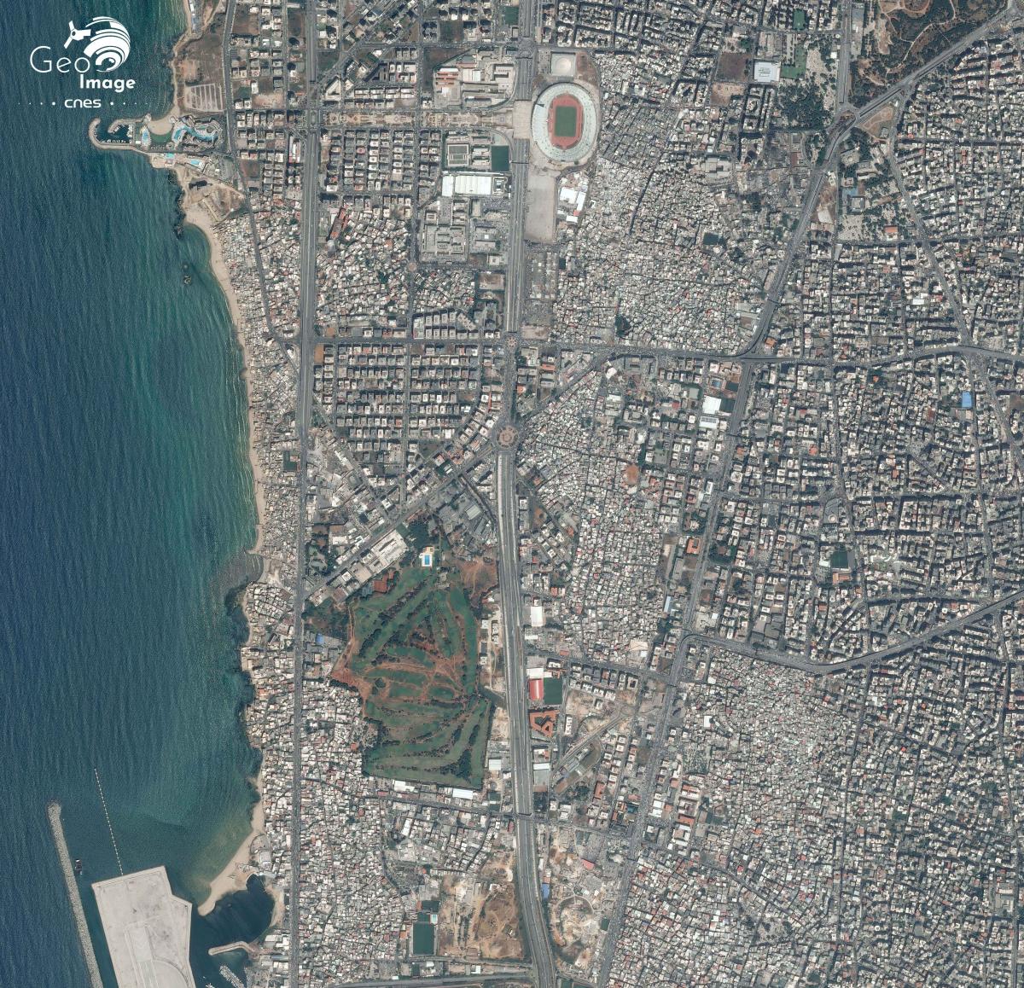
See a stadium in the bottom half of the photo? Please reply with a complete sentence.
No, there's no stadium to be seen in the bottom half of the photo.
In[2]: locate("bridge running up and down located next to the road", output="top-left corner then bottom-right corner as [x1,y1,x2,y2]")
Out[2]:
[512,100,532,139]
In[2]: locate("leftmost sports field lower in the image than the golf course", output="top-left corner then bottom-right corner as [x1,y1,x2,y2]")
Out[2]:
[412,922,435,955]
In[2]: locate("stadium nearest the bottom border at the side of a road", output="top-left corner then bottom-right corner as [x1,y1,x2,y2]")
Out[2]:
[531,81,597,162]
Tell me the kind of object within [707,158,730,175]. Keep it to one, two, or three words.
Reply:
building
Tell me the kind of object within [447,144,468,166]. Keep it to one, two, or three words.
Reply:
building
